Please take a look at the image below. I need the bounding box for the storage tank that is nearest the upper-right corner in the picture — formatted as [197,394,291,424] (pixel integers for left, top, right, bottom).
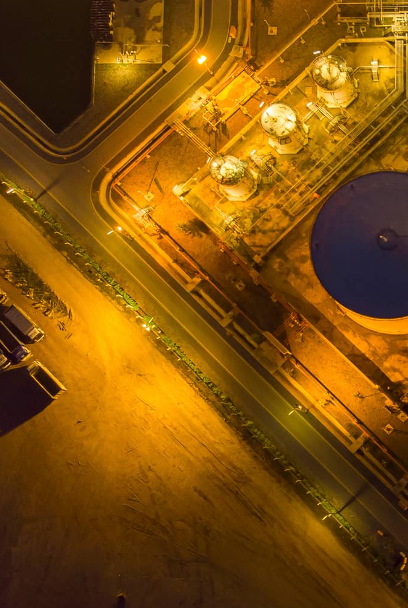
[311,50,358,111]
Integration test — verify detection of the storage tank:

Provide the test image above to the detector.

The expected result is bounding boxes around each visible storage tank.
[255,100,310,156]
[311,50,358,111]
[203,151,263,205]
[309,171,408,339]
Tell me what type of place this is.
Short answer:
industrial area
